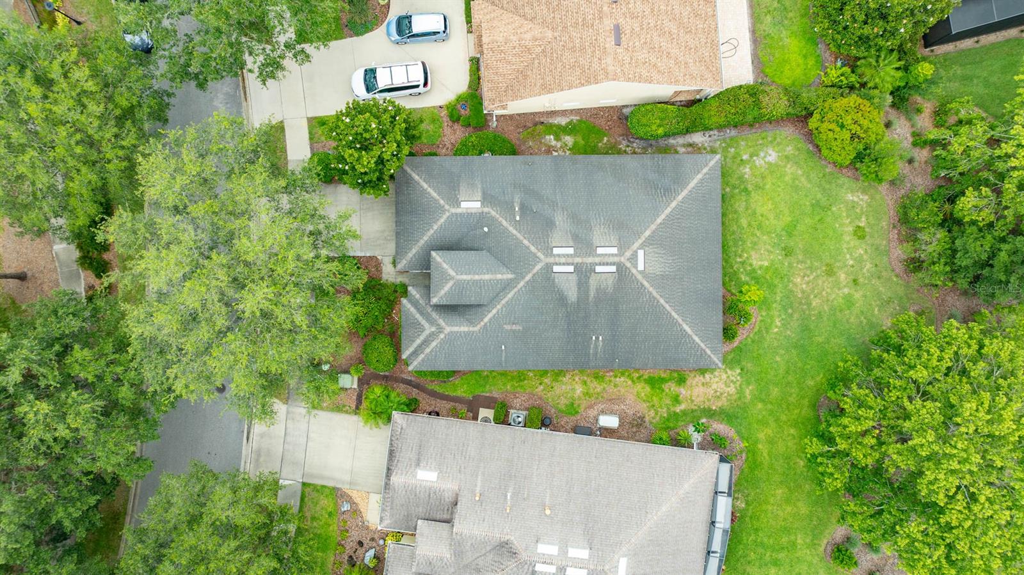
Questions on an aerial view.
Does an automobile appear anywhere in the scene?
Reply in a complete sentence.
Yes, there is an automobile in the image.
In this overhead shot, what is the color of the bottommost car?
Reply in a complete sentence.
From above, the bottommost car appears white.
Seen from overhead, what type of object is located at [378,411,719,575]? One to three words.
house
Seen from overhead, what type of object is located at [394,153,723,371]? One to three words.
house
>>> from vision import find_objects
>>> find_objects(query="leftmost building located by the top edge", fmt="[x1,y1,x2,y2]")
[463,0,725,133]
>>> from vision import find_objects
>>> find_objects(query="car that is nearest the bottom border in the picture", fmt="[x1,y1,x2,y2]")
[351,61,432,98]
